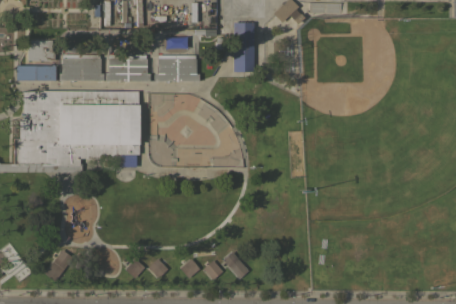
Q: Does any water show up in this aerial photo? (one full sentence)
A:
No, the scene doesn't show any water.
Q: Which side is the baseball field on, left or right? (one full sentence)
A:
The baseball field appears in the right half of the scene.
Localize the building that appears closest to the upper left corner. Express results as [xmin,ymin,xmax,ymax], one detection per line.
[26,41,54,62]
